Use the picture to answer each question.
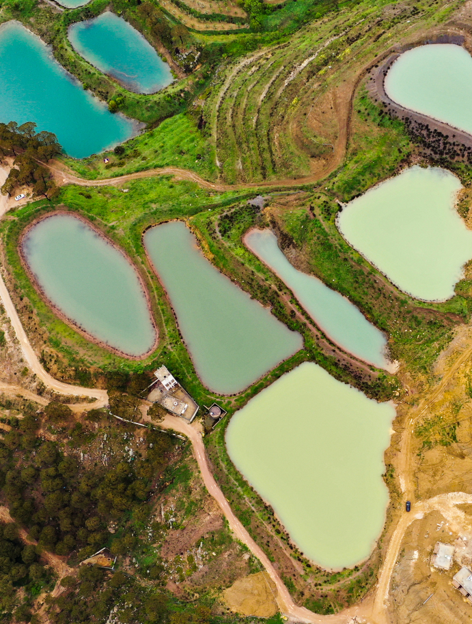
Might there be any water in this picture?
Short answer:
Yes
